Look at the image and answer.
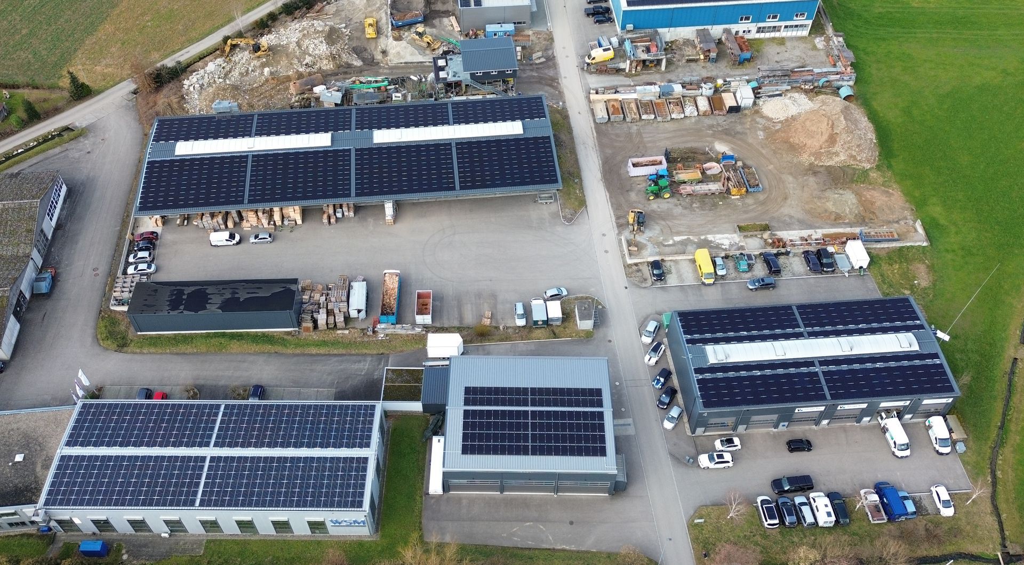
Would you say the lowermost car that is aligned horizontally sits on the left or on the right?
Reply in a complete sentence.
You can find the lowermost car that is aligned horizontally on the right side of the picture.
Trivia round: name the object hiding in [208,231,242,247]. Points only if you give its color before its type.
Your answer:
white vehicle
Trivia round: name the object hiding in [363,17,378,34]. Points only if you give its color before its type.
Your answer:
yellow work vehicle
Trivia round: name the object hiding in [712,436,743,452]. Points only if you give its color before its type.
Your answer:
white car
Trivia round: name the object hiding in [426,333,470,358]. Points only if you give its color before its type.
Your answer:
white trailer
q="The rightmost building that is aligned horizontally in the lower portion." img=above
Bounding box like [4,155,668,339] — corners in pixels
[667,295,961,434]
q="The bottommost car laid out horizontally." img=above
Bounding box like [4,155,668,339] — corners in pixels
[770,472,817,496]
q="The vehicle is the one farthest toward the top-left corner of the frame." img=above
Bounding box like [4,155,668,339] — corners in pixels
[225,34,272,58]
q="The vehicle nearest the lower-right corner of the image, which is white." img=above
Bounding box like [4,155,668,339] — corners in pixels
[930,485,954,517]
